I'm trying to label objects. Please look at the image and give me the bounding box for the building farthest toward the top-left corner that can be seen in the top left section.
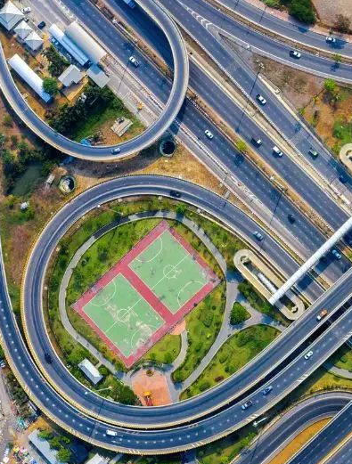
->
[0,1,25,32]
